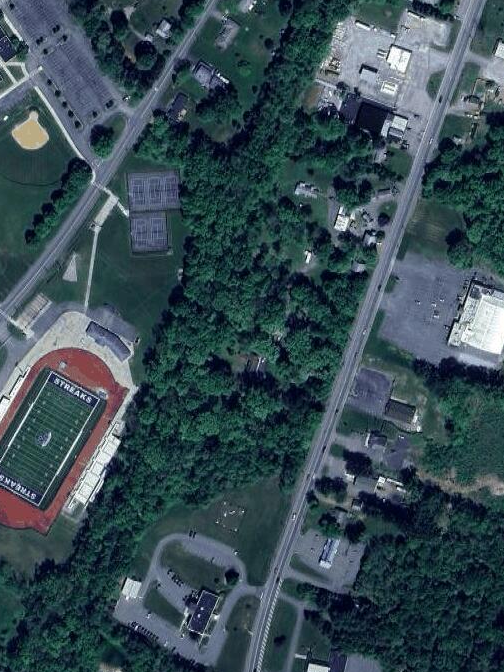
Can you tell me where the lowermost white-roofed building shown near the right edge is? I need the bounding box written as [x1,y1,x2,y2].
[448,283,504,361]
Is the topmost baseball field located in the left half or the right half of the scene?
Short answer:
left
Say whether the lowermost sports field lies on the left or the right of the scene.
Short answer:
left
